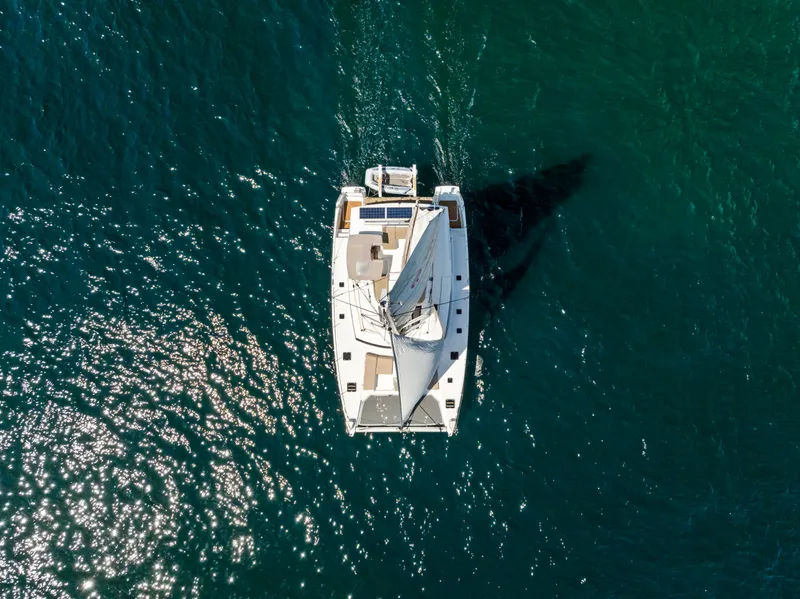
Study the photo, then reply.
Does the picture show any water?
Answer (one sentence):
Yes, the picture does contain water.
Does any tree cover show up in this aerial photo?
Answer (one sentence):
No, tree cover can't be seen anywhere here.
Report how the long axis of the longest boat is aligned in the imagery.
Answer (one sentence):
From this overhead view, the longest boat appears to run vertically.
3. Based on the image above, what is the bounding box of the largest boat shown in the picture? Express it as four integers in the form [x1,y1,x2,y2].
[330,165,470,434]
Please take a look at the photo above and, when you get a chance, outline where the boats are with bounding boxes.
[330,165,470,434]
[365,166,413,196]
